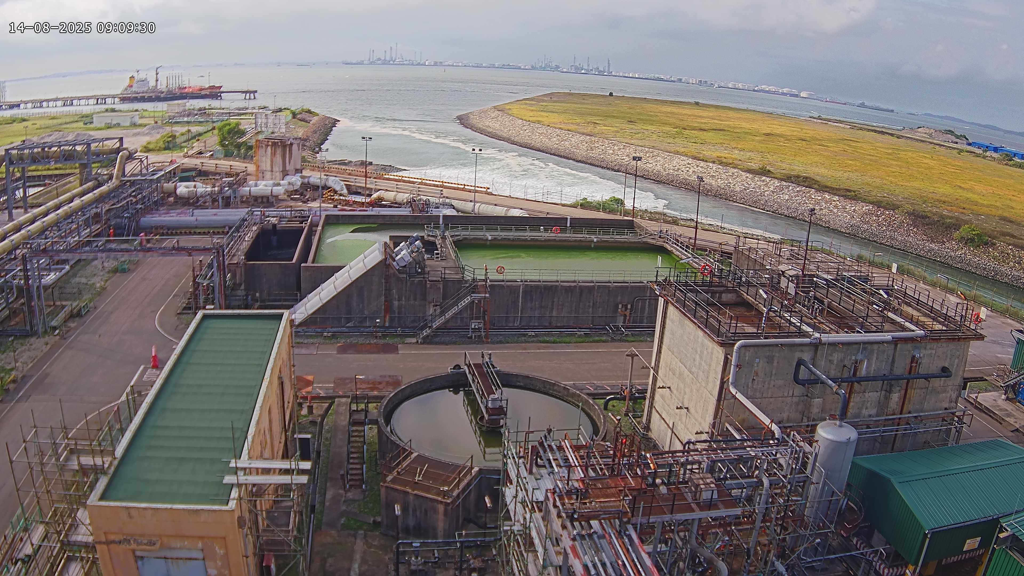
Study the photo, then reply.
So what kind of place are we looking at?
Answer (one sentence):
This looks like an industrial area.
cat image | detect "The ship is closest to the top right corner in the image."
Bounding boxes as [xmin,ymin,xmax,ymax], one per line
[853,97,894,114]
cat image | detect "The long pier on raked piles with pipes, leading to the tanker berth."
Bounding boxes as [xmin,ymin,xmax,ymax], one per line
[0,85,258,108]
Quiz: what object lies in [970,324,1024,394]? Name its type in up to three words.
building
